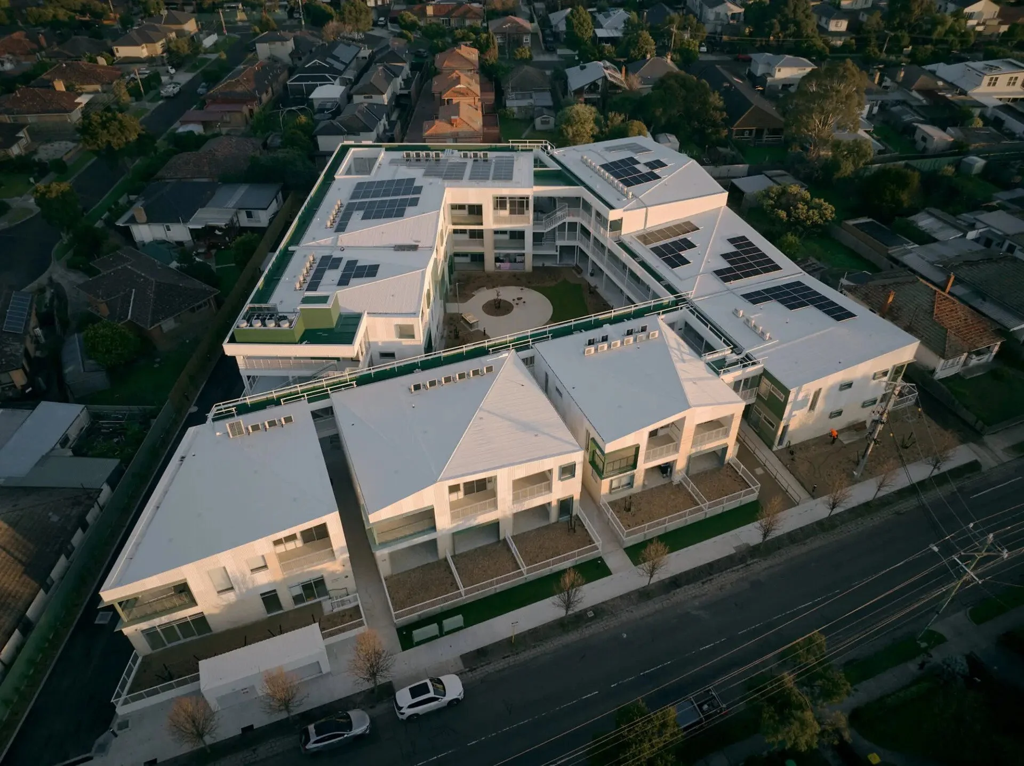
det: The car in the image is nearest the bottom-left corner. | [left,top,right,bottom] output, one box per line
[298,711,372,763]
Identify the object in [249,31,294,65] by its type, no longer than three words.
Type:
house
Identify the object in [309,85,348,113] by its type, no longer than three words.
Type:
house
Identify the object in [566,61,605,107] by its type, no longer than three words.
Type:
shed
